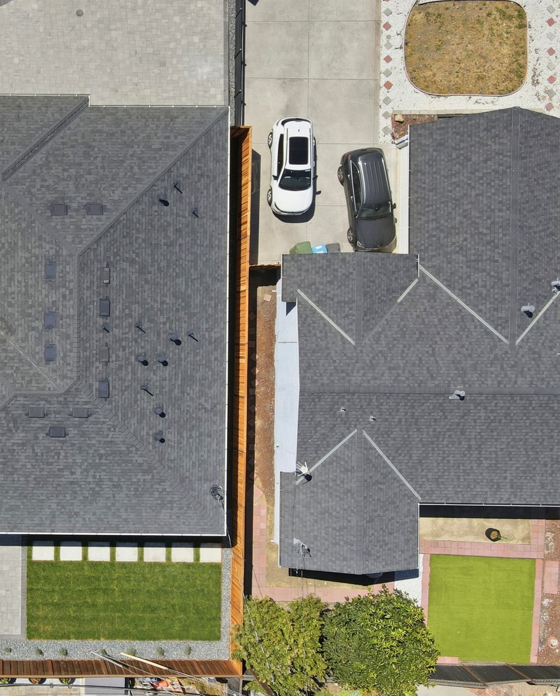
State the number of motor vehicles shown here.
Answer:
2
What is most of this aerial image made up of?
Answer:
buildings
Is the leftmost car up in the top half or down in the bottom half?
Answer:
top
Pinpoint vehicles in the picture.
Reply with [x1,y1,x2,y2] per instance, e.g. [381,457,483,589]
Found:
[341,143,404,252]
[267,113,323,217]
